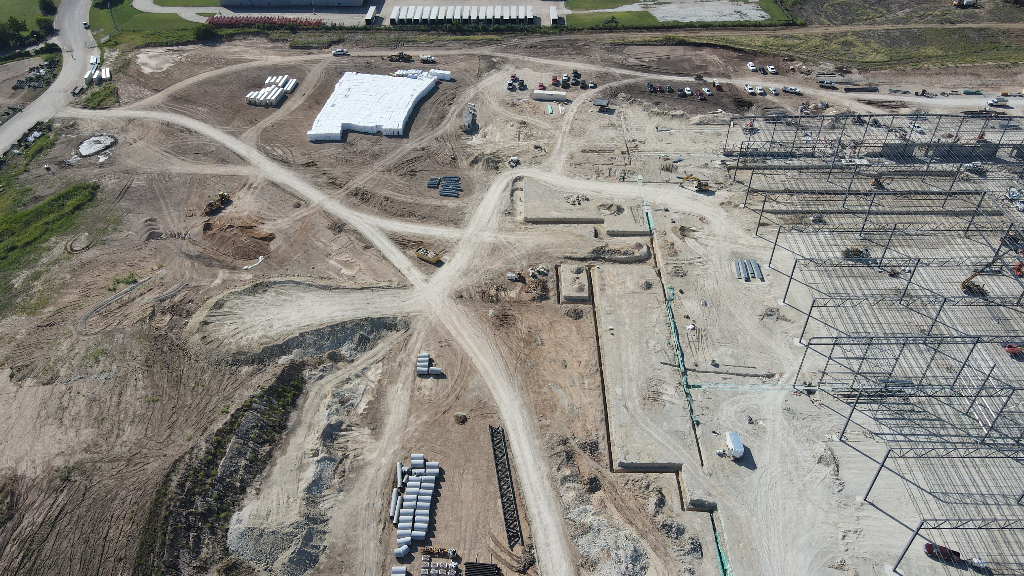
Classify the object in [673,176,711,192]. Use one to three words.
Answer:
work vehicle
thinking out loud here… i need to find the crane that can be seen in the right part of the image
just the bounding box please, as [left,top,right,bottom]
[954,215,1024,302]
